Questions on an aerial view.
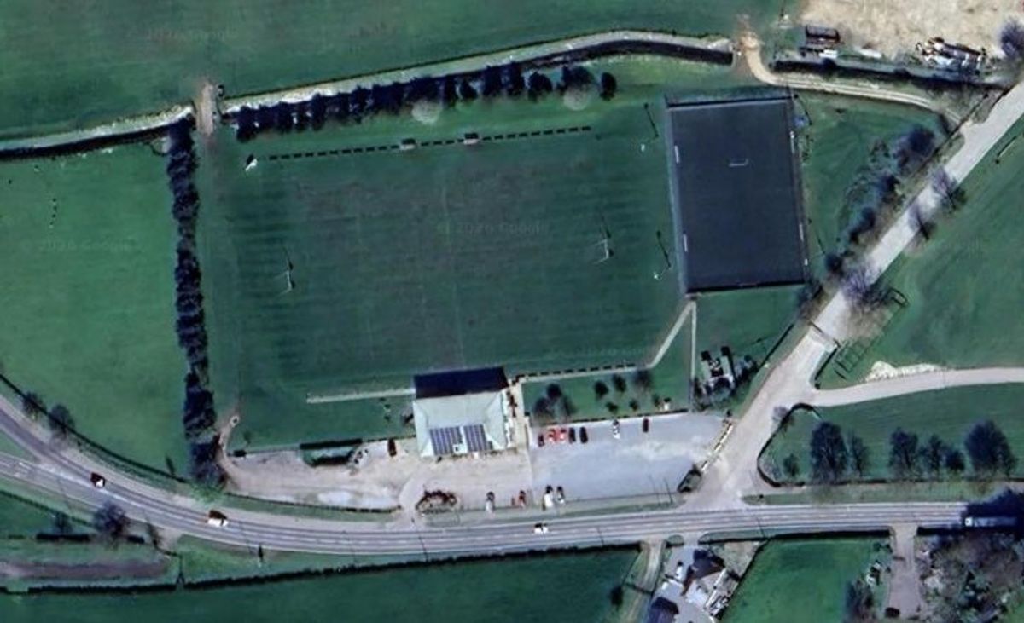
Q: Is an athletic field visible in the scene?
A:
Yes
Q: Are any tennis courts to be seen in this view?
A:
No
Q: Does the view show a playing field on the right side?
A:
Yes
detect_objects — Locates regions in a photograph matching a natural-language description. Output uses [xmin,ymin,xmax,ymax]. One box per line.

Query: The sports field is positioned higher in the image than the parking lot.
[670,96,806,291]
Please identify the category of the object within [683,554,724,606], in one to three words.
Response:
house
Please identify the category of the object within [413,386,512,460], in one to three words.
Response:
building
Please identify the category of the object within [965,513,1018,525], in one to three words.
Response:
vehicle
